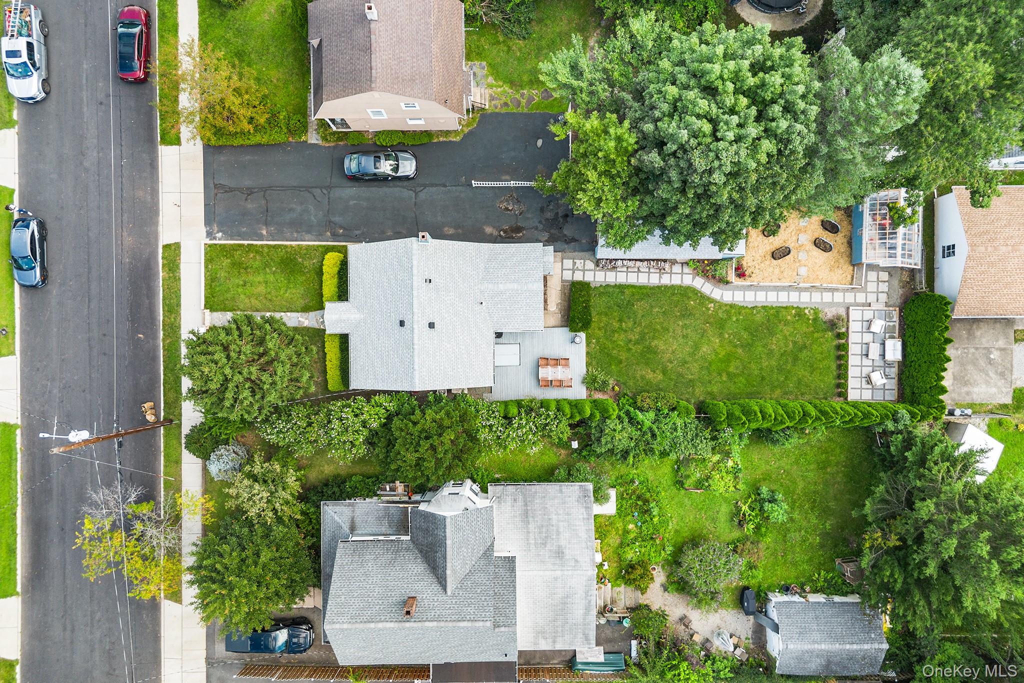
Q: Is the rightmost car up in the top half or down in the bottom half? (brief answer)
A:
top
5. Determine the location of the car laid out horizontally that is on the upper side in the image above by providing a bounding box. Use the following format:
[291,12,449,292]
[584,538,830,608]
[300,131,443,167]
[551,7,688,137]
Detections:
[344,147,417,182]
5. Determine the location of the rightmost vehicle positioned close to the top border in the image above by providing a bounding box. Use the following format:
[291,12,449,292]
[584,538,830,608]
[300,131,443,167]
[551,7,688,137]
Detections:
[108,4,151,82]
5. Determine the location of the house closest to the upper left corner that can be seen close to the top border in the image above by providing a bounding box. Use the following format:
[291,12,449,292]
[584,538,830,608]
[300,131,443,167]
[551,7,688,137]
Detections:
[306,0,489,126]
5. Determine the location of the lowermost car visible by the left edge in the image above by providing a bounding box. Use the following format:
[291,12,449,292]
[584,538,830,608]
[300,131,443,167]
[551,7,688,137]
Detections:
[1,218,44,288]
